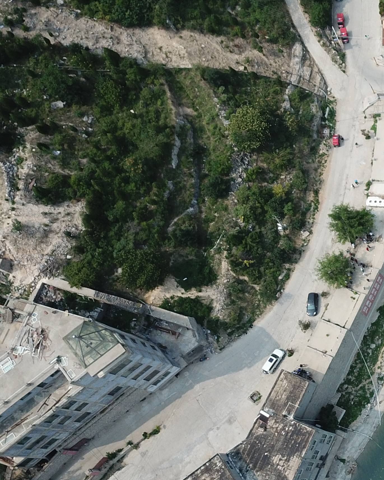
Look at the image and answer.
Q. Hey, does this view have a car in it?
Yes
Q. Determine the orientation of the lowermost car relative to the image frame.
on a diagonal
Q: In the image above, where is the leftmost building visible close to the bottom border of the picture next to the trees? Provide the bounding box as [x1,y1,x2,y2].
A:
[0,305,179,478]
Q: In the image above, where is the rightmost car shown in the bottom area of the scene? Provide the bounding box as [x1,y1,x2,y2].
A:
[305,292,319,318]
